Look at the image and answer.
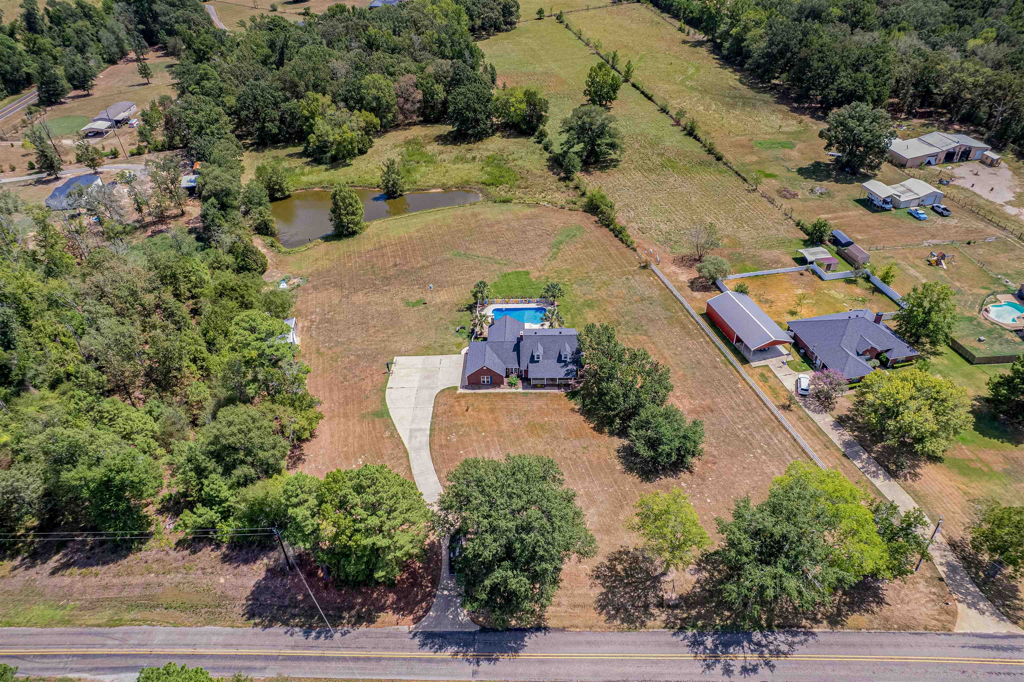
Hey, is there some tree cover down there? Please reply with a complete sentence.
Yes, tree cover can be seen from above here.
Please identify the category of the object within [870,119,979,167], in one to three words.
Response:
building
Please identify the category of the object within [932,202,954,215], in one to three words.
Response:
vehicle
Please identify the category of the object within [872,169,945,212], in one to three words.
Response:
building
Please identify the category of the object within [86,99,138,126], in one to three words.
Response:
house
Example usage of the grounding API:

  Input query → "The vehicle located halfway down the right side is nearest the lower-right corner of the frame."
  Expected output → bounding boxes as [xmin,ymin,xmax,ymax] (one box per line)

[798,376,811,397]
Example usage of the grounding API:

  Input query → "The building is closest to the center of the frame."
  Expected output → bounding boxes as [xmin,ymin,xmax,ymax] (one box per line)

[465,311,580,387]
